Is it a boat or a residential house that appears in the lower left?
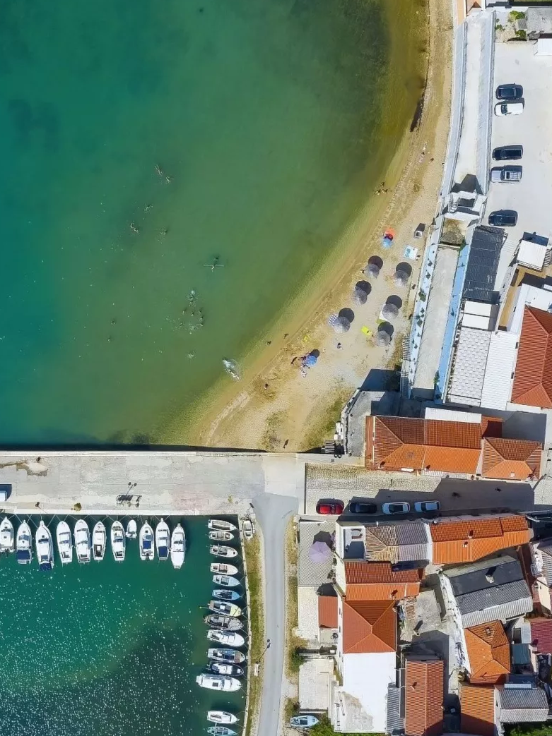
boat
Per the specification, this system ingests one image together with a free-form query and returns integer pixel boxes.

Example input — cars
[413,500,440,512]
[316,500,344,514]
[497,86,522,100]
[348,501,376,515]
[493,146,522,160]
[491,167,521,183]
[488,211,517,225]
[495,103,523,117]
[381,501,409,515]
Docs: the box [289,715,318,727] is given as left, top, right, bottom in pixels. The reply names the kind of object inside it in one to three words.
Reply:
boat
